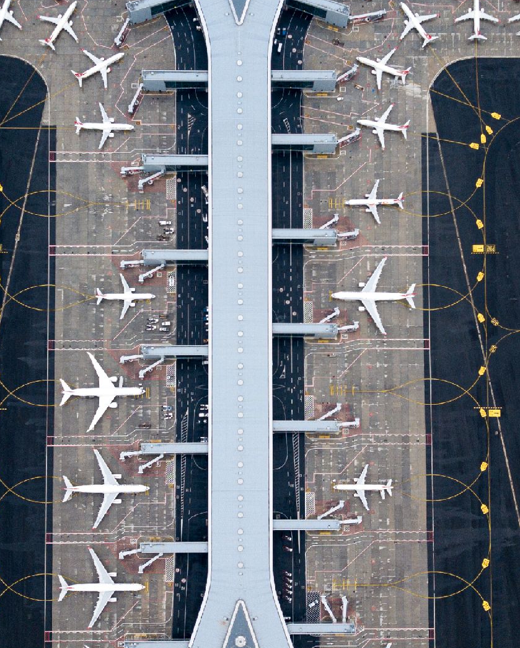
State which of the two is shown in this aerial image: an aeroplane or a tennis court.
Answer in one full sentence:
Visible in the photo is an aeroplane.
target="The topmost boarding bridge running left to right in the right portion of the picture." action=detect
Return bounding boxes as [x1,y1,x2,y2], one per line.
[282,0,386,24]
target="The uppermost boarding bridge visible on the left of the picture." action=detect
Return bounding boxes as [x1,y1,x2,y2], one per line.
[114,0,195,49]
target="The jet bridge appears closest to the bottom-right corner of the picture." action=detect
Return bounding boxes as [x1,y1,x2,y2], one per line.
[286,592,354,634]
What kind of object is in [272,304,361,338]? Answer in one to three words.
jet bridge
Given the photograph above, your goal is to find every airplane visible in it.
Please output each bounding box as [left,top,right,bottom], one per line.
[455,0,502,38]
[58,351,145,431]
[333,463,394,512]
[358,99,411,148]
[357,44,411,88]
[74,101,134,149]
[64,448,150,529]
[396,3,436,44]
[95,272,156,319]
[332,254,419,333]
[0,0,25,38]
[345,177,404,224]
[73,43,124,88]
[59,547,145,629]
[37,2,81,47]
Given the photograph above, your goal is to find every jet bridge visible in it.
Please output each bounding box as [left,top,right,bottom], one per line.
[282,0,386,24]
[114,0,195,49]
[286,592,354,634]
[271,126,361,151]
[272,304,361,338]
[120,155,208,192]
[124,640,190,648]
[271,61,360,89]
[120,346,208,382]
[120,542,208,579]
[271,209,360,244]
[120,250,208,286]
[120,443,208,480]
[127,70,208,114]
[272,401,363,433]
[272,500,364,531]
